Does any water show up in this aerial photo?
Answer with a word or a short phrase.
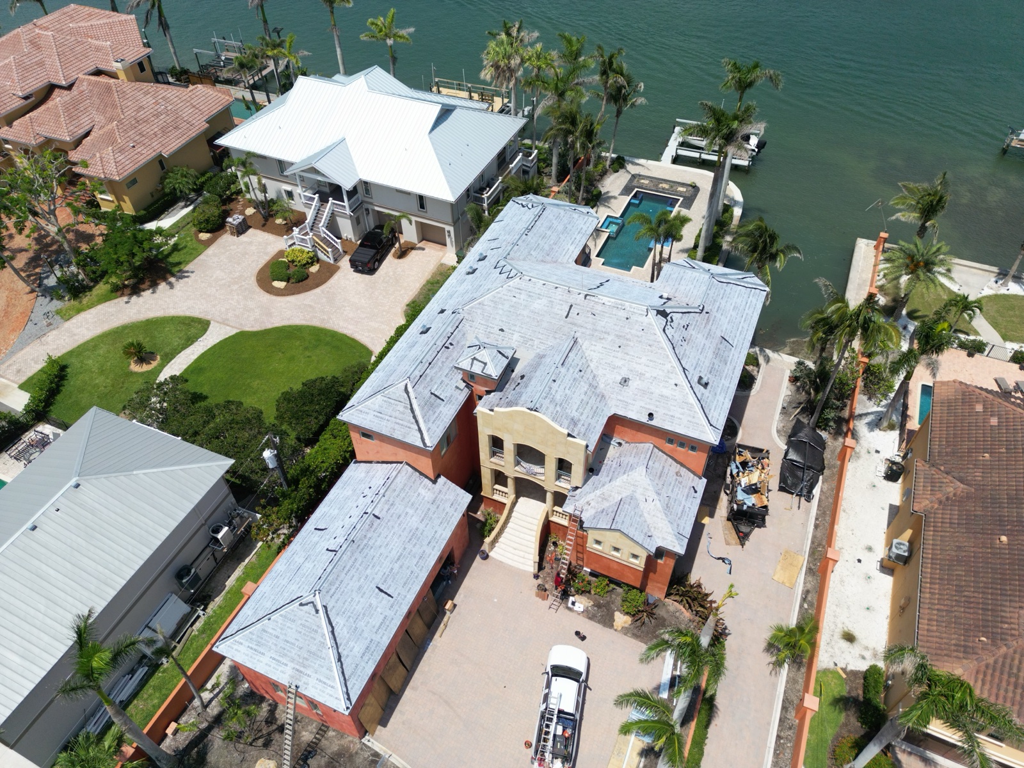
Yes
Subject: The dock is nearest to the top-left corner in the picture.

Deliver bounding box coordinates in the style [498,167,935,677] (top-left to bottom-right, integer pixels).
[180,14,298,88]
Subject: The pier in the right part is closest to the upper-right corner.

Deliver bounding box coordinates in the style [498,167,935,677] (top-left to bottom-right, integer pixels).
[993,118,1024,162]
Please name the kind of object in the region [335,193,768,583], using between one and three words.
house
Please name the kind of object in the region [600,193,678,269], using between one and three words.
swimming pool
